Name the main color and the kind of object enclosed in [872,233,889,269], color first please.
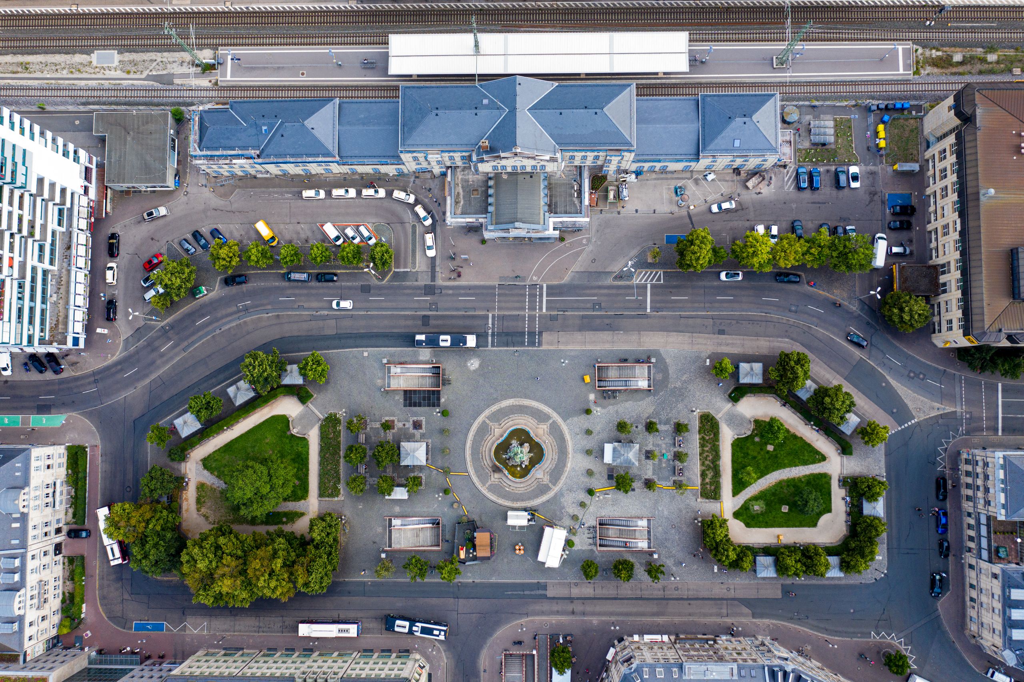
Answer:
white vehicle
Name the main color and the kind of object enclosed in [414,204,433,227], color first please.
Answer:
white car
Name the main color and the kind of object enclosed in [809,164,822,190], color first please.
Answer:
blue vehicle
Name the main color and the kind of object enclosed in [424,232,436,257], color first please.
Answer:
white vehicle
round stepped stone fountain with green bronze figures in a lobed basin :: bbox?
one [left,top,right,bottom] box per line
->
[464,398,573,509]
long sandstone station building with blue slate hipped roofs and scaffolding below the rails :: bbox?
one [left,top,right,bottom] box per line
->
[199,75,792,229]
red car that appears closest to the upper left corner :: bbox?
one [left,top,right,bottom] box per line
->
[142,253,164,273]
